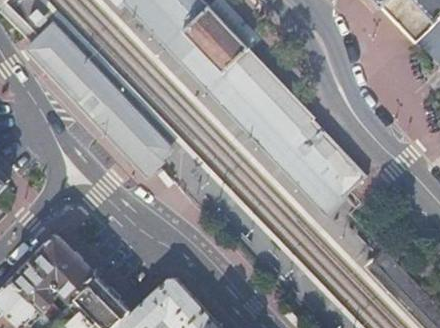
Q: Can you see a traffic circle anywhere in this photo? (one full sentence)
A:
No, I can see no traffic circle in this picture.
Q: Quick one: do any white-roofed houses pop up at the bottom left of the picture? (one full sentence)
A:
Yes, the scene does show a white-roofed house at the bottom left of the picture.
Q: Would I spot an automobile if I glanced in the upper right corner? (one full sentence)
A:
Yes, in the upper right corner there is an automobile.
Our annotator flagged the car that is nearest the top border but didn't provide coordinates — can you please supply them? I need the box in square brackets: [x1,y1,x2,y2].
[334,16,350,36]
